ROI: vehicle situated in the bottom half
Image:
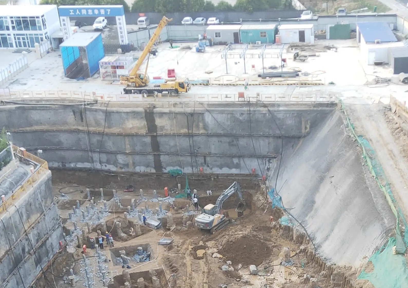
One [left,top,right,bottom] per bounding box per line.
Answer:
[195,166,241,234]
